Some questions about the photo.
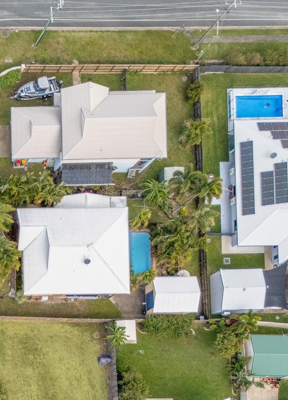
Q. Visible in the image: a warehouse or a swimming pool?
swimming pool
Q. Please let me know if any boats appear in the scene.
Yes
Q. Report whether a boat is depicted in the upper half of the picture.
Yes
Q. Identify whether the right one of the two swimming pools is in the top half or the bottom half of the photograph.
top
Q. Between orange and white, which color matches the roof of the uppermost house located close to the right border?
white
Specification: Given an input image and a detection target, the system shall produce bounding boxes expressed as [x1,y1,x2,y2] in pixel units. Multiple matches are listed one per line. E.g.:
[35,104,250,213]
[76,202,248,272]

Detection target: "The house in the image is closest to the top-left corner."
[8,81,168,190]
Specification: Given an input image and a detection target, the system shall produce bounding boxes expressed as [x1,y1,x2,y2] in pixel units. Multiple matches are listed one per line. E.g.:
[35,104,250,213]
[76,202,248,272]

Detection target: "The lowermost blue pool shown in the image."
[129,230,155,277]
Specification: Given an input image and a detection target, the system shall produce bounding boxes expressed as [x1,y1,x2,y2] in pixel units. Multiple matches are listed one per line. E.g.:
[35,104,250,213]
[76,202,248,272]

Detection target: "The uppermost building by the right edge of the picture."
[227,119,288,270]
